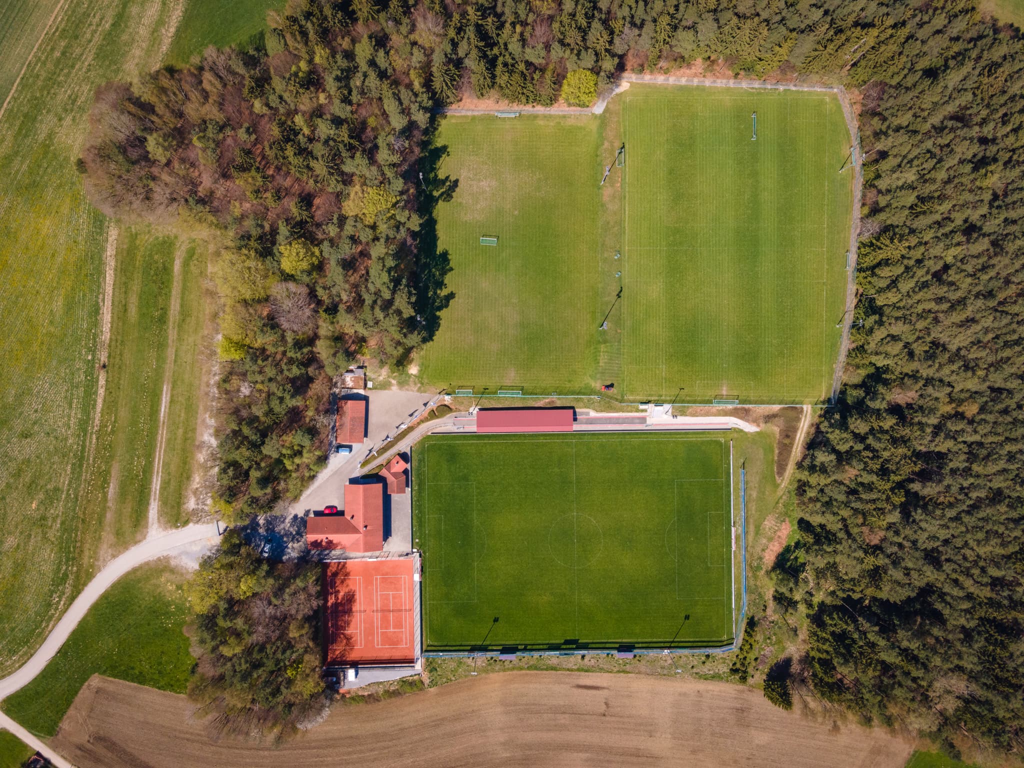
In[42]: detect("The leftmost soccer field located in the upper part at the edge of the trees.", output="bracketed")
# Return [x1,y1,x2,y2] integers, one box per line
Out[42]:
[413,114,603,395]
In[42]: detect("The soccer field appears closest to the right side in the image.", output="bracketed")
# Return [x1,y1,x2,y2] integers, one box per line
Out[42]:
[621,83,854,404]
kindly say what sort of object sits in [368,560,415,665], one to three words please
tennis court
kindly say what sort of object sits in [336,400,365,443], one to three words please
building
